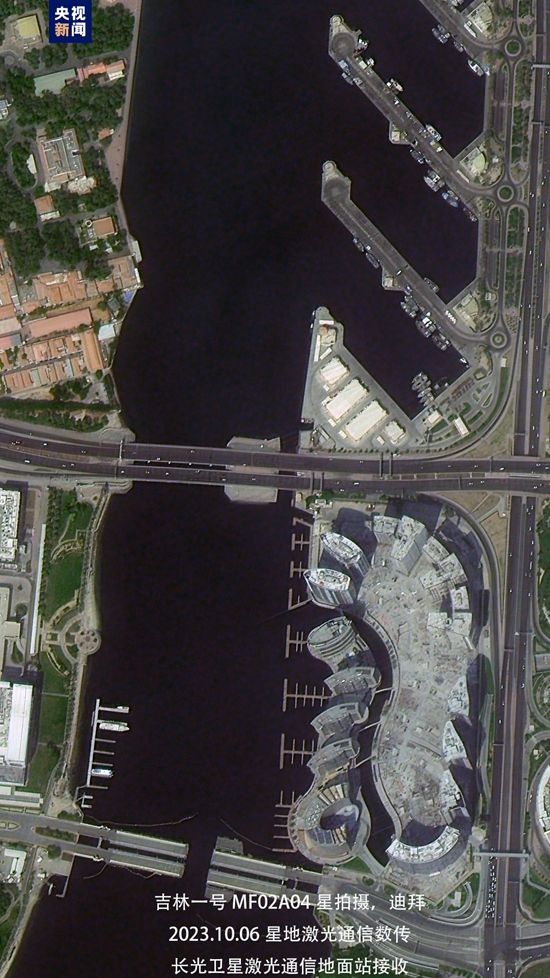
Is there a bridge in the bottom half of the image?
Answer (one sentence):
Yes, the scene does show a bridge in the bottom half of the image.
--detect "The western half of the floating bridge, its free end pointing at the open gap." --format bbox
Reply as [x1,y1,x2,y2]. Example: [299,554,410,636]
[79,823,189,878]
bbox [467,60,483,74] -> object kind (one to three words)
boat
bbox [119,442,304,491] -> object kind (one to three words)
bridge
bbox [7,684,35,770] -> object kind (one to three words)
building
